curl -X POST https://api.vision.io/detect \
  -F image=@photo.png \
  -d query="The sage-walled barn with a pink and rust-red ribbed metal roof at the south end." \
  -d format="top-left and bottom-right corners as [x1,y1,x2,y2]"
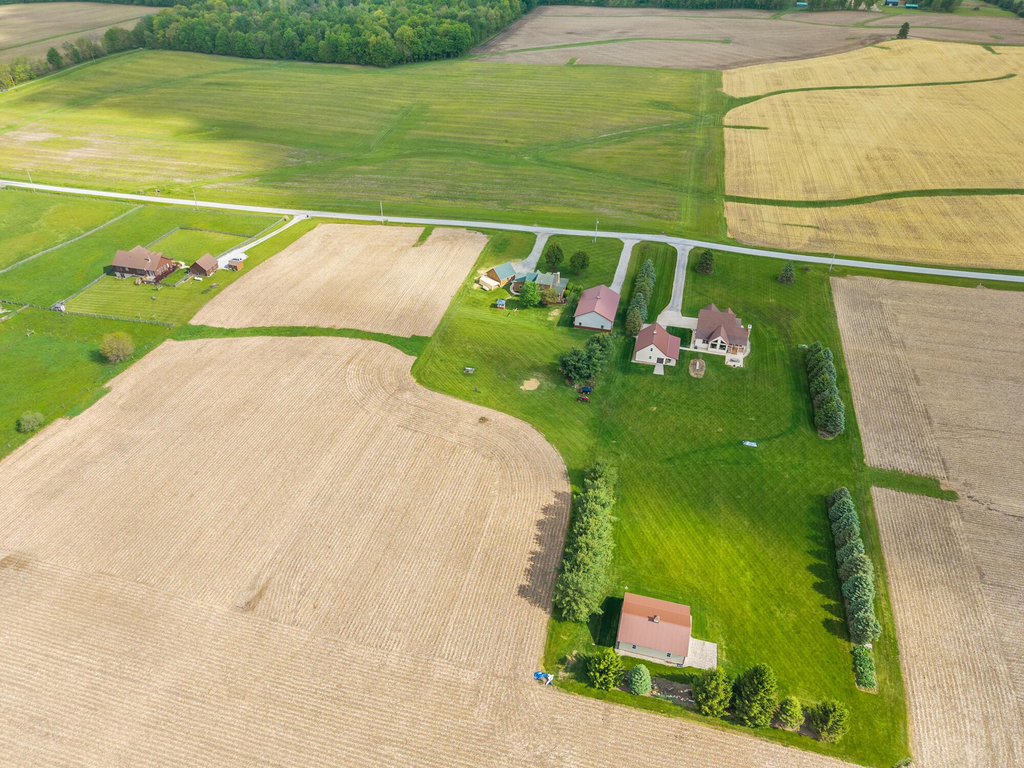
[618,592,691,667]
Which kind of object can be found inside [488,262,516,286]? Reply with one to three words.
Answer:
building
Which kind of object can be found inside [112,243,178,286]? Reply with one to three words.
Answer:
house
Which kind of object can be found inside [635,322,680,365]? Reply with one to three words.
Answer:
barn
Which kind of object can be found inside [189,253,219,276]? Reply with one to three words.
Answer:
building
